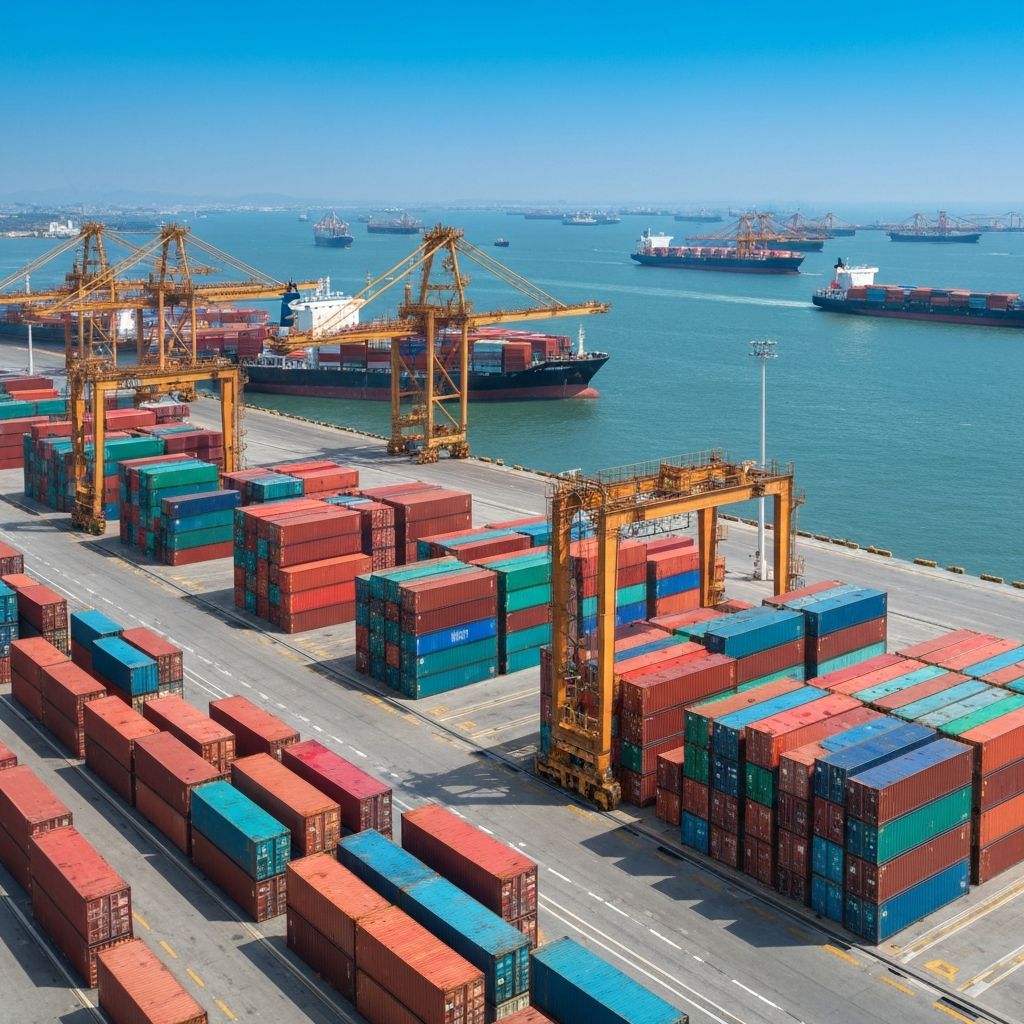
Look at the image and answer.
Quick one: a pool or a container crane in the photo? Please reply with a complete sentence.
This aerial view contains a container crane.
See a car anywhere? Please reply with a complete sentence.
No, the frame has no car in it.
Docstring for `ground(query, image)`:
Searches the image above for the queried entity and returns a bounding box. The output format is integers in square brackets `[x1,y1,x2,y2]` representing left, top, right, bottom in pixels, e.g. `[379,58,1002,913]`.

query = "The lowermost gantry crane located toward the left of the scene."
[65,349,260,531]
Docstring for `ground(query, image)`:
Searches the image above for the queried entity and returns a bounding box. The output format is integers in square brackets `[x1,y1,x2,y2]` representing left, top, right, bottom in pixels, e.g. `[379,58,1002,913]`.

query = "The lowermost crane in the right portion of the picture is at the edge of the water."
[529,439,810,804]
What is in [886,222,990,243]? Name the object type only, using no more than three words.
ship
